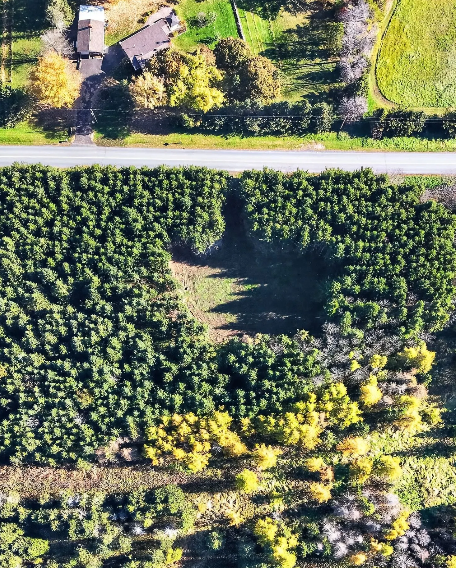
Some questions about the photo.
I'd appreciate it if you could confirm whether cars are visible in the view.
No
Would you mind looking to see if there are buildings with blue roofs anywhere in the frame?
No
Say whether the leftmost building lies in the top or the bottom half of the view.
top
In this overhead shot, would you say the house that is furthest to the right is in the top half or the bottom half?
top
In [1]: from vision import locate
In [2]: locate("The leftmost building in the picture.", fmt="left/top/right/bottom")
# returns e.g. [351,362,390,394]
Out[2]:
[77,1,112,57]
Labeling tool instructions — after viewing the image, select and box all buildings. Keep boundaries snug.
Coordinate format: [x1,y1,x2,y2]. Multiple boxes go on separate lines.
[77,1,112,57]
[119,15,174,76]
